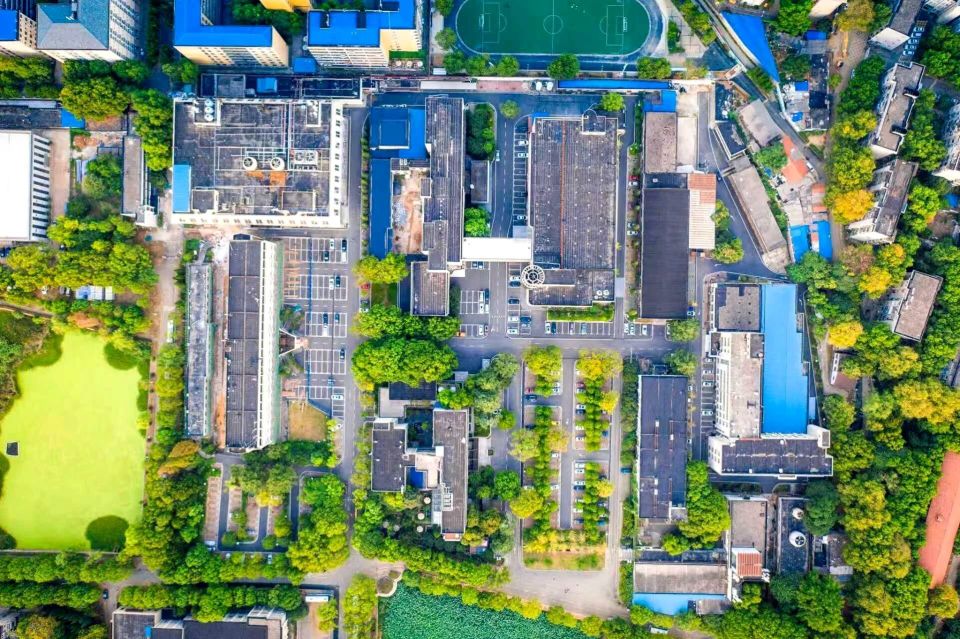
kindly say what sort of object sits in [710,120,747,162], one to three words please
house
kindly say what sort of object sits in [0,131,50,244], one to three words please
building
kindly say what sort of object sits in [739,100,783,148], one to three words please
house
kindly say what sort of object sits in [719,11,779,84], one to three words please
shed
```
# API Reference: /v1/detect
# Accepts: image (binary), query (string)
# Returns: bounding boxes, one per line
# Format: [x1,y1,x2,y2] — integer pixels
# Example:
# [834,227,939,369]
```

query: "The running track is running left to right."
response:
[440,0,667,71]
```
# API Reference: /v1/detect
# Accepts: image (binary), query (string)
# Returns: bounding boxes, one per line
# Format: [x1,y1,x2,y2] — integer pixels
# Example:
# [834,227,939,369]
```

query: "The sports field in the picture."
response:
[439,0,668,72]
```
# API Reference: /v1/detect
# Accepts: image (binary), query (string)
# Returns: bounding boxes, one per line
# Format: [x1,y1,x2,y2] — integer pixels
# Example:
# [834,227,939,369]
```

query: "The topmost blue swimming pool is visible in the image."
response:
[408,468,425,488]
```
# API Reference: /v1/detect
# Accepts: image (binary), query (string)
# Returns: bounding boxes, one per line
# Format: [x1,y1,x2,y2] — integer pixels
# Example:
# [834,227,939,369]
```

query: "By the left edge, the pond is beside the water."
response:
[0,330,145,551]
